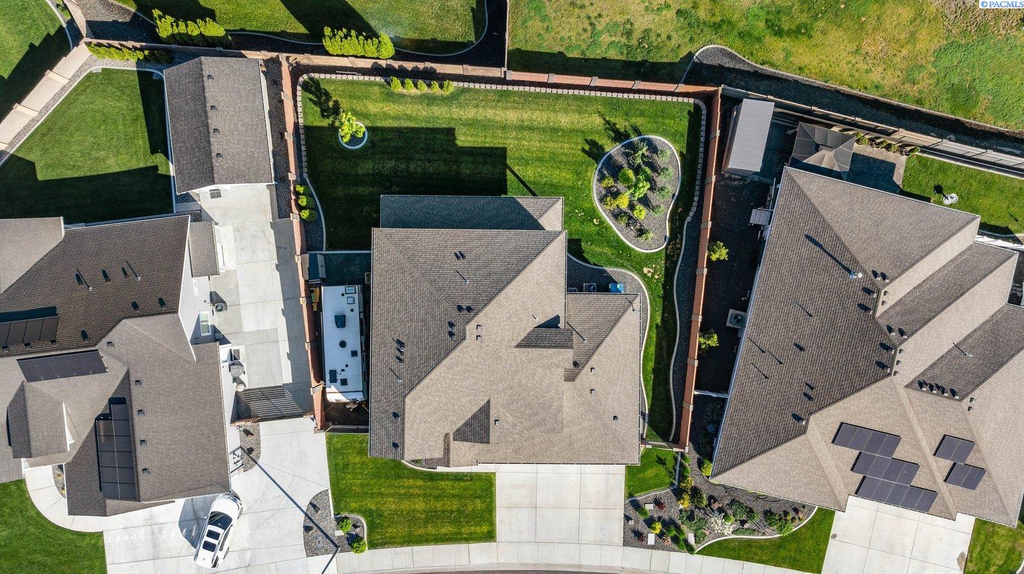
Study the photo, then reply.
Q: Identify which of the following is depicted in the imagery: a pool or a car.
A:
car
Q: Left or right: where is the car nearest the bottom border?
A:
left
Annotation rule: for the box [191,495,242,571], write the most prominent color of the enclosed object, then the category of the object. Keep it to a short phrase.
white car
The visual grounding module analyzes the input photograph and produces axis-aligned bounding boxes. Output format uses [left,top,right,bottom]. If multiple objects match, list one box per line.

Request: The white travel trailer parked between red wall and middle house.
[321,285,369,407]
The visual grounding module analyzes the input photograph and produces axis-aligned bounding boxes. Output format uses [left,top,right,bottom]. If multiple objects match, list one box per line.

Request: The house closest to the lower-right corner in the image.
[707,165,1024,529]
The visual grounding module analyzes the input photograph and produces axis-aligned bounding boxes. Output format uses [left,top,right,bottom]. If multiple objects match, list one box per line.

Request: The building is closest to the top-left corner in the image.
[162,56,279,195]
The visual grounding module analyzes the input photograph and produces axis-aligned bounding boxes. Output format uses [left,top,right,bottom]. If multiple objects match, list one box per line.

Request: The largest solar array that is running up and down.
[96,405,137,501]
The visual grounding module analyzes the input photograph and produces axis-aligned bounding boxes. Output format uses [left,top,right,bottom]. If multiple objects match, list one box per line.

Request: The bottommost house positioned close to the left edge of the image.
[0,214,236,517]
